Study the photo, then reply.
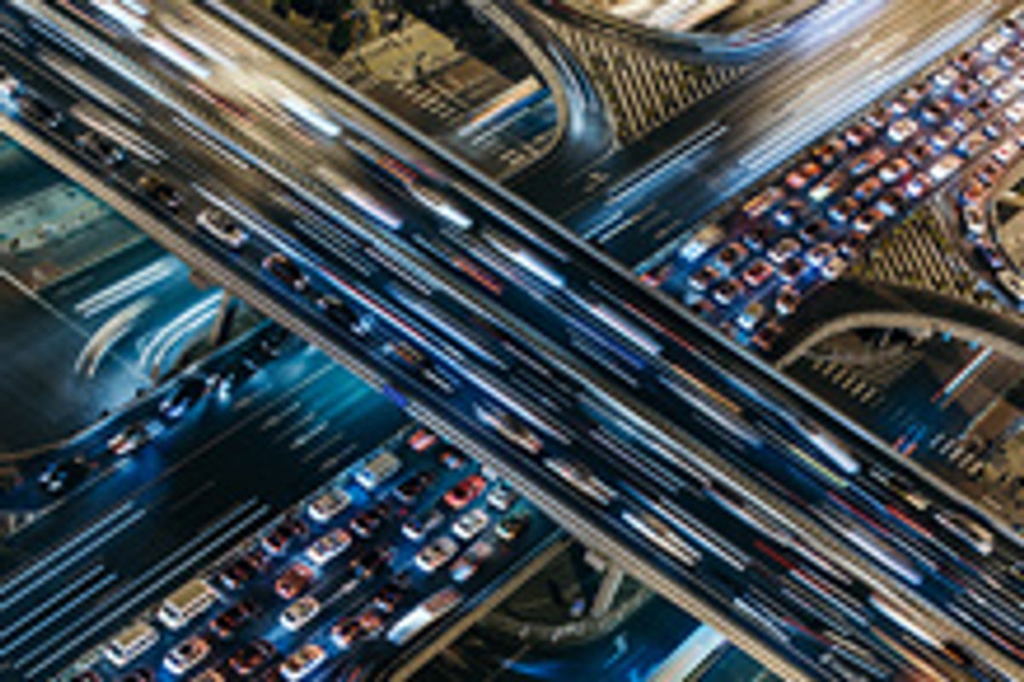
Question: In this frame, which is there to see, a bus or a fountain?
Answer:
bus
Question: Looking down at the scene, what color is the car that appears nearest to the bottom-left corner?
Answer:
black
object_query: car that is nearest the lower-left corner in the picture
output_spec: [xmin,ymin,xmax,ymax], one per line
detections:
[67,657,113,682]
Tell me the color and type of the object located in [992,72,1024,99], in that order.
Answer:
white car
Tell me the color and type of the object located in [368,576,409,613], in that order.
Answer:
black car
